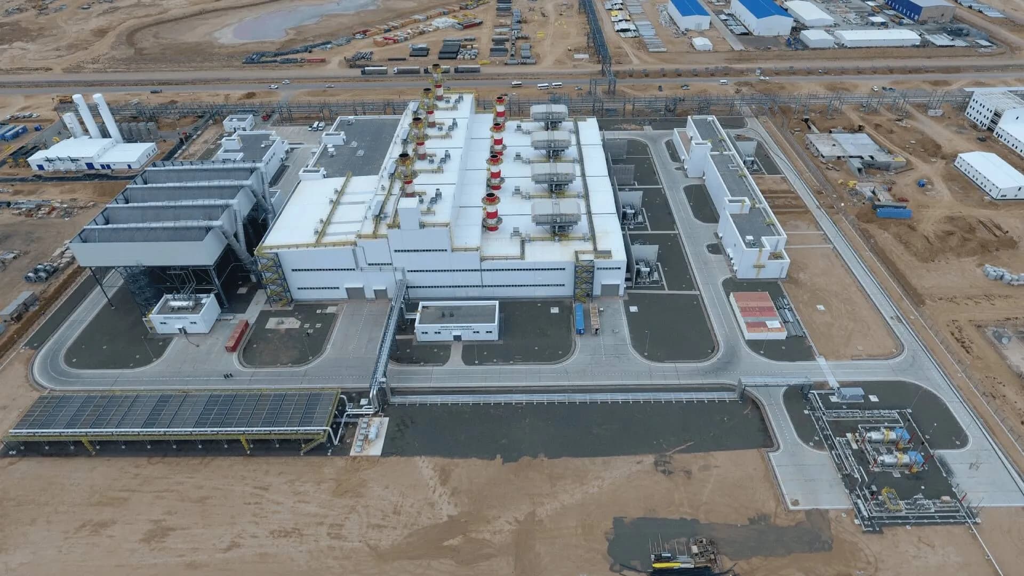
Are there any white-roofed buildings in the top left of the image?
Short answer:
Yes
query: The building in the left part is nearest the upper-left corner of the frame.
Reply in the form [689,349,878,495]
[23,132,162,170]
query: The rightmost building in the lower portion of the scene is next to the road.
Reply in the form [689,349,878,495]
[833,384,868,402]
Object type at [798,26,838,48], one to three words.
building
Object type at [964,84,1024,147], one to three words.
building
